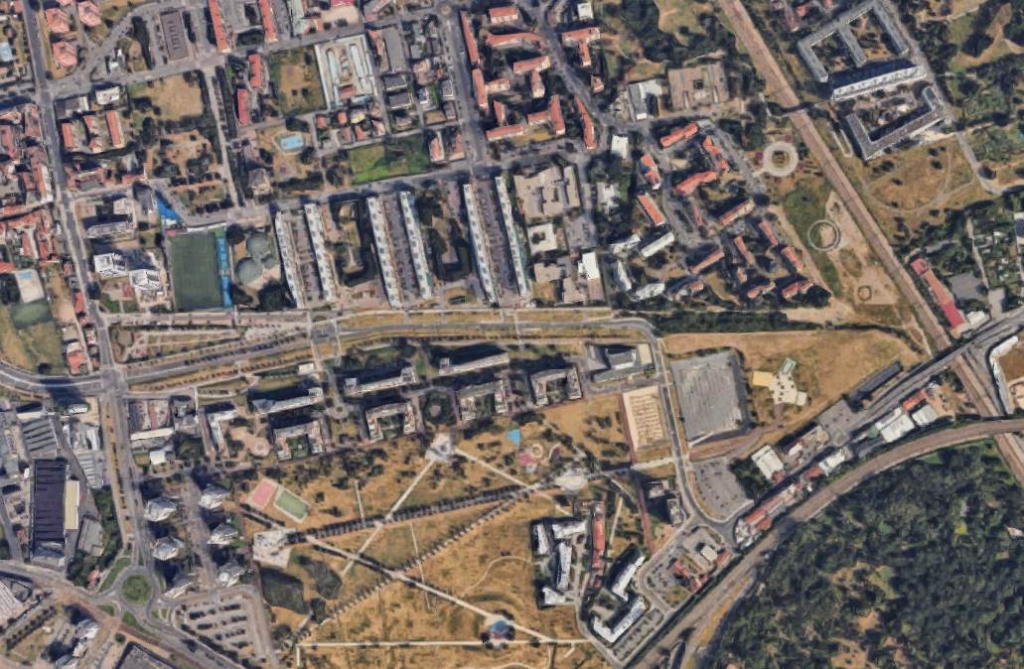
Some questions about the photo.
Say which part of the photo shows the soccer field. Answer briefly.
left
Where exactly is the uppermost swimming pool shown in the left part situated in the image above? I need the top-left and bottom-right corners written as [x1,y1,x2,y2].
[273,131,310,155]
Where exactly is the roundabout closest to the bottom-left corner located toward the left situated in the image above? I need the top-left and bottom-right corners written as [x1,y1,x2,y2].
[116,567,160,612]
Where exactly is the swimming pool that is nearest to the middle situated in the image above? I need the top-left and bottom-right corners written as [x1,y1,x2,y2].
[507,429,521,444]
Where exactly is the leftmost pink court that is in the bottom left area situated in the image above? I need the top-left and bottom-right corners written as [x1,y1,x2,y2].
[250,478,279,509]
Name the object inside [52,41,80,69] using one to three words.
house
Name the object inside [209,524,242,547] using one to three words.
building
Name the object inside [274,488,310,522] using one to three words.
sports court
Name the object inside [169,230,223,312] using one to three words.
soccer field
